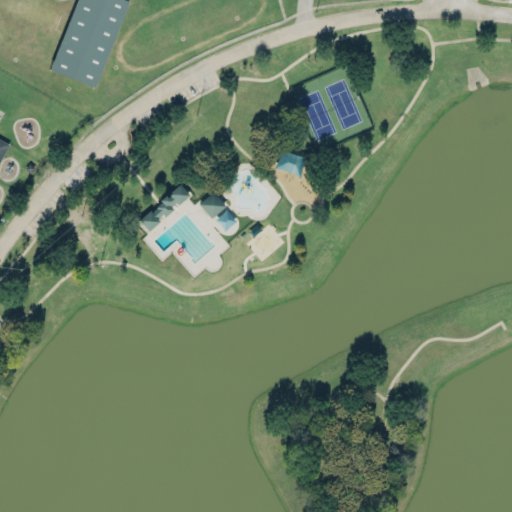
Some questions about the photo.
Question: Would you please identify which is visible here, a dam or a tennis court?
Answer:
tennis court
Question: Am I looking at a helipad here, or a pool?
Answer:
pool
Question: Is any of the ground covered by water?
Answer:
Yes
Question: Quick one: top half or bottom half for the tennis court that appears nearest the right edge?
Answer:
top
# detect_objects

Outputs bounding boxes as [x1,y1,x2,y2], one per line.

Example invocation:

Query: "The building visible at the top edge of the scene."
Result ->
[52,0,129,88]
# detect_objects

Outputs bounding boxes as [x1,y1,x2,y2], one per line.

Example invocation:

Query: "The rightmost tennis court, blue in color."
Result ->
[326,80,362,130]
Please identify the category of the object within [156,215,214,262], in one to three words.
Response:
swimming pool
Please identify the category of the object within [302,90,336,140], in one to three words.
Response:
tennis court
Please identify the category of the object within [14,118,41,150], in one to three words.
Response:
playground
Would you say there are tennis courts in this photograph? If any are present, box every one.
[326,80,362,130]
[302,90,336,140]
